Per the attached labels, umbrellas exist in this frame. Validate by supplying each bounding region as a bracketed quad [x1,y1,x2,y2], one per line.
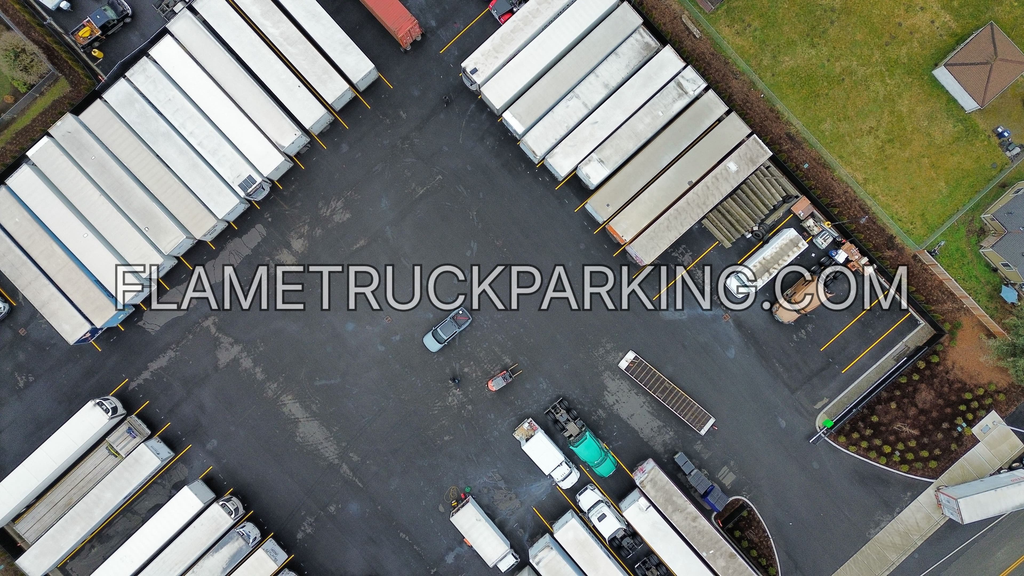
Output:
[993,284,1016,305]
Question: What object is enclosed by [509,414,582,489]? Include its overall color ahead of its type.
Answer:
white truck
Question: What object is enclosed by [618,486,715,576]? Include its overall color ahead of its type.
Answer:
white trailer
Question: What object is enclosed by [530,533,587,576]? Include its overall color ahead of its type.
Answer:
white trailer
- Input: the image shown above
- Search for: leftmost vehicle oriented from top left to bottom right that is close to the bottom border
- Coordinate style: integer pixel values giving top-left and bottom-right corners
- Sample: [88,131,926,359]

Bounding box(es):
[450,491,523,575]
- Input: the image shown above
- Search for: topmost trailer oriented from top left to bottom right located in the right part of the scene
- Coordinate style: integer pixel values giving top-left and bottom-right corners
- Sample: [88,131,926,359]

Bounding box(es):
[617,349,716,436]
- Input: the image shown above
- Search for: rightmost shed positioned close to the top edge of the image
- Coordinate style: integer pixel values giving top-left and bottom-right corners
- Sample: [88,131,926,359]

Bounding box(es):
[933,21,1024,110]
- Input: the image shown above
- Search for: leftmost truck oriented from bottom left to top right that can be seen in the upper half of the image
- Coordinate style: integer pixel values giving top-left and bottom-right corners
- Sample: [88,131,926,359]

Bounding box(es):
[69,1,136,51]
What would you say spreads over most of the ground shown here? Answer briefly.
paved ground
